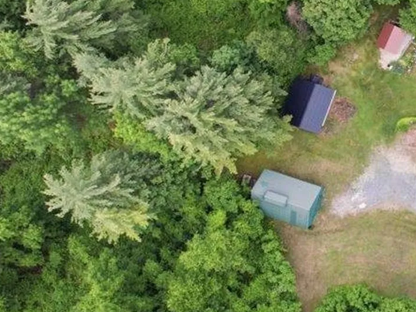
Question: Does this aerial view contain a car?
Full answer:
No, I can't see a single car in this photo.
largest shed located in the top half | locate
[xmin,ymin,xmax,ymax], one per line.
[284,77,341,133]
